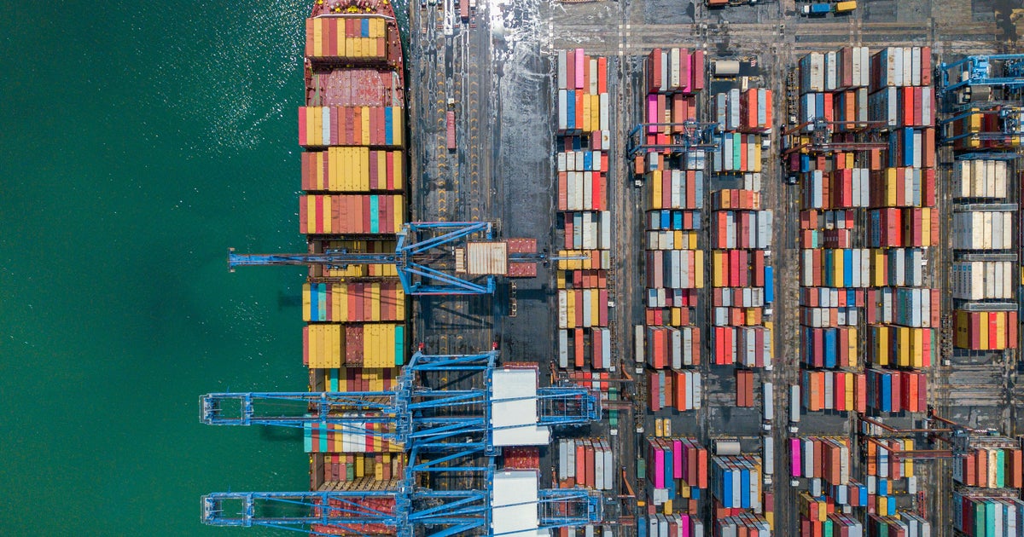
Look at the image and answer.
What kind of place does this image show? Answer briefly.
port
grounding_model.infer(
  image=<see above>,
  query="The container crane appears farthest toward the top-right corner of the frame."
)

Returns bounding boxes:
[941,54,1024,101]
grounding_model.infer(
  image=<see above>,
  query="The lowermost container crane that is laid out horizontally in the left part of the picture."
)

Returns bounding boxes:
[202,422,603,537]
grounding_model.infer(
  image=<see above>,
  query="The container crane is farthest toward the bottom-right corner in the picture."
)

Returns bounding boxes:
[859,408,973,457]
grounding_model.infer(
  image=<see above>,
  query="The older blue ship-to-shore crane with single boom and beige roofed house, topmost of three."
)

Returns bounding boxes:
[228,212,589,299]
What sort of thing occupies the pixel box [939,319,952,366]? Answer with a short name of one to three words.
vehicle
